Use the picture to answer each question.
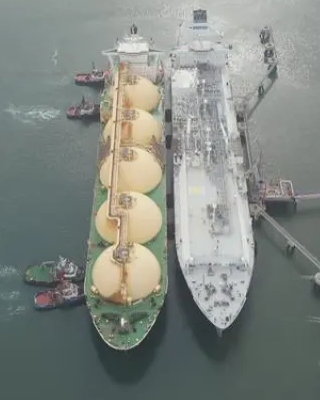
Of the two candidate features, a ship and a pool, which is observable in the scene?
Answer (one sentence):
Of the two, only a ship appears.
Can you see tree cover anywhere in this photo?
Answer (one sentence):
No, there is no tree cover in the image.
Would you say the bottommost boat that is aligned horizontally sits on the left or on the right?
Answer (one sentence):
The bottommost boat that is aligned horizontally is on the left side of the image.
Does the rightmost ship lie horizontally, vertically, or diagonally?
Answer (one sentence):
The rightmost ship has been laid out vertically relative to the frame.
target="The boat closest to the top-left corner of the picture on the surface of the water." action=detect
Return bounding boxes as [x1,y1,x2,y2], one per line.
[73,64,105,84]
